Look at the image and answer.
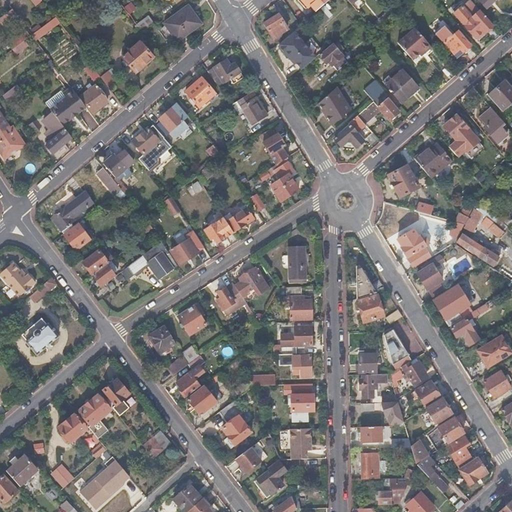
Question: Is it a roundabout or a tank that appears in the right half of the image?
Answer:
roundabout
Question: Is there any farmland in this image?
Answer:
No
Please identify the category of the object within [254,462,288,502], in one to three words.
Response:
house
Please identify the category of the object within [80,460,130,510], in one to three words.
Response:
building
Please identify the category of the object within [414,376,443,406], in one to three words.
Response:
house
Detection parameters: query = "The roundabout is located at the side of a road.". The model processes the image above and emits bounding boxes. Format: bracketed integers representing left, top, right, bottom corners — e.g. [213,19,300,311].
[318,173,373,228]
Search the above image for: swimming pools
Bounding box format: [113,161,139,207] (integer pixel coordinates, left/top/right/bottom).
[454,260,470,274]
[24,163,38,175]
[222,346,234,358]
